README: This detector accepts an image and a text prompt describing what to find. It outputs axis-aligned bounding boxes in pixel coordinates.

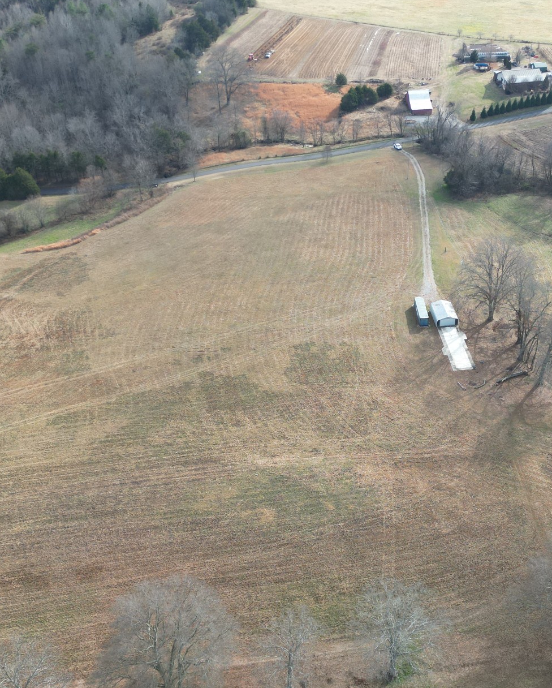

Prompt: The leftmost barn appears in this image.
[404,89,433,115]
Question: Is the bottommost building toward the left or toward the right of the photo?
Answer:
right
